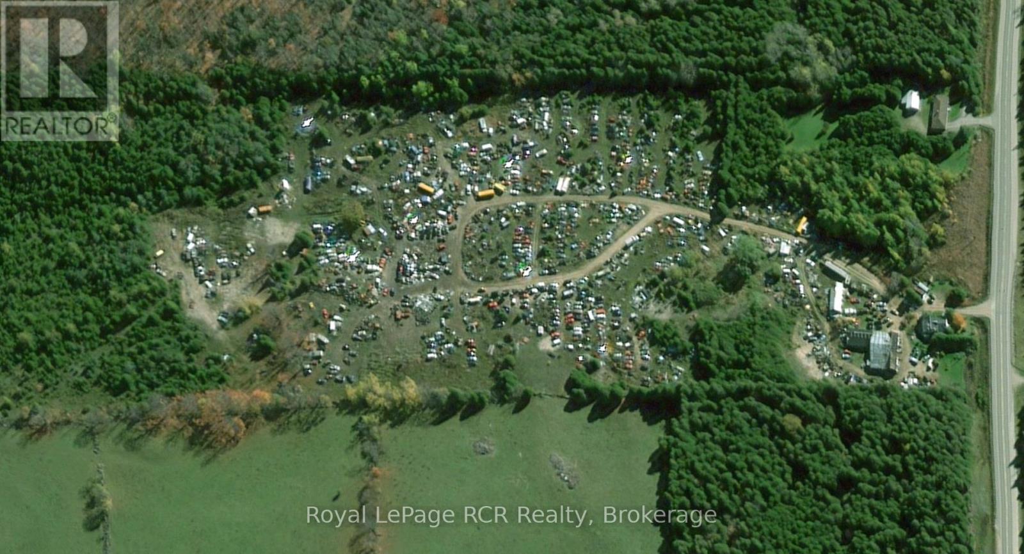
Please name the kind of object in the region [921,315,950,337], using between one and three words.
house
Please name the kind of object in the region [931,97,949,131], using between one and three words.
house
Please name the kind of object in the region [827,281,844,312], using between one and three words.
shed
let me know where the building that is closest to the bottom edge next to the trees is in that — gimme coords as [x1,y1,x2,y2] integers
[847,335,899,374]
